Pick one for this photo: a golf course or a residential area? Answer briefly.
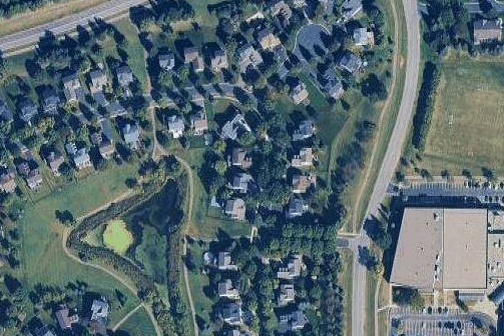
residential area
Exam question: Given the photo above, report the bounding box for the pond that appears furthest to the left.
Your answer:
[101,179,183,321]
